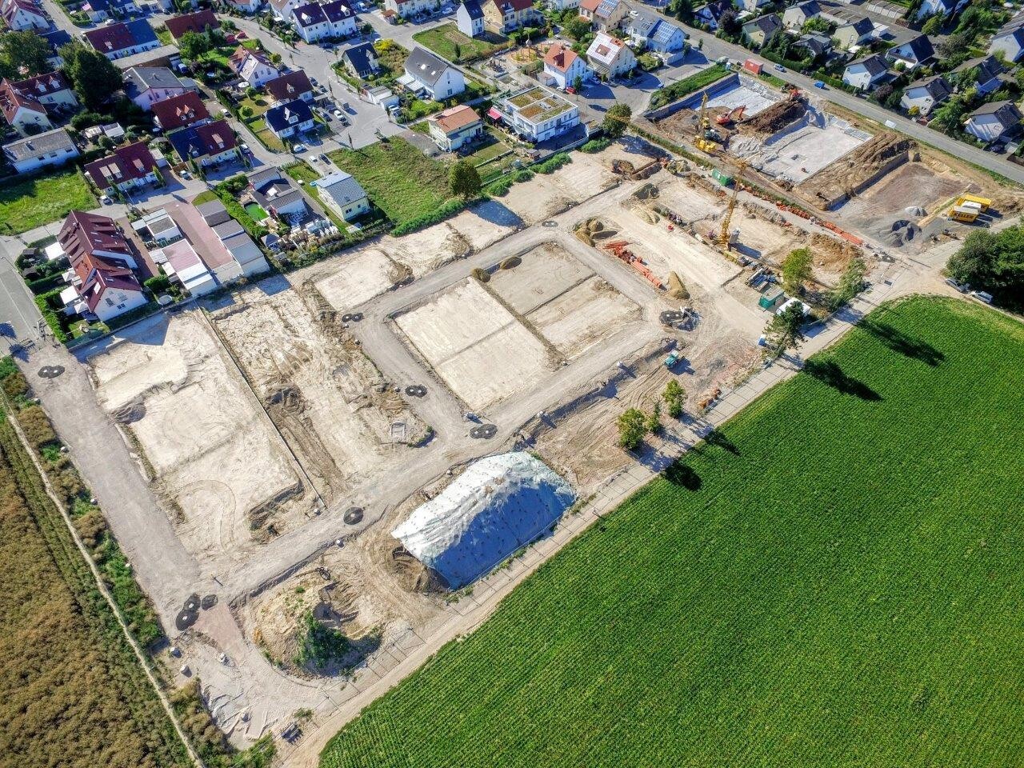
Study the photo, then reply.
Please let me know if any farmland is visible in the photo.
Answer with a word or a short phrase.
Yes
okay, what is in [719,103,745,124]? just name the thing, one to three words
work vehicle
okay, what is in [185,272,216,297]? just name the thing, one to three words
building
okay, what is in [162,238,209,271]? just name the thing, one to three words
building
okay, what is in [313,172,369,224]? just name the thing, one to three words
house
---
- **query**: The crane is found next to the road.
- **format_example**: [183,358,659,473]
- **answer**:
[605,112,768,258]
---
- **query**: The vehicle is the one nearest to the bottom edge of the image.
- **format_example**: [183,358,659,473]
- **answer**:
[657,348,685,370]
